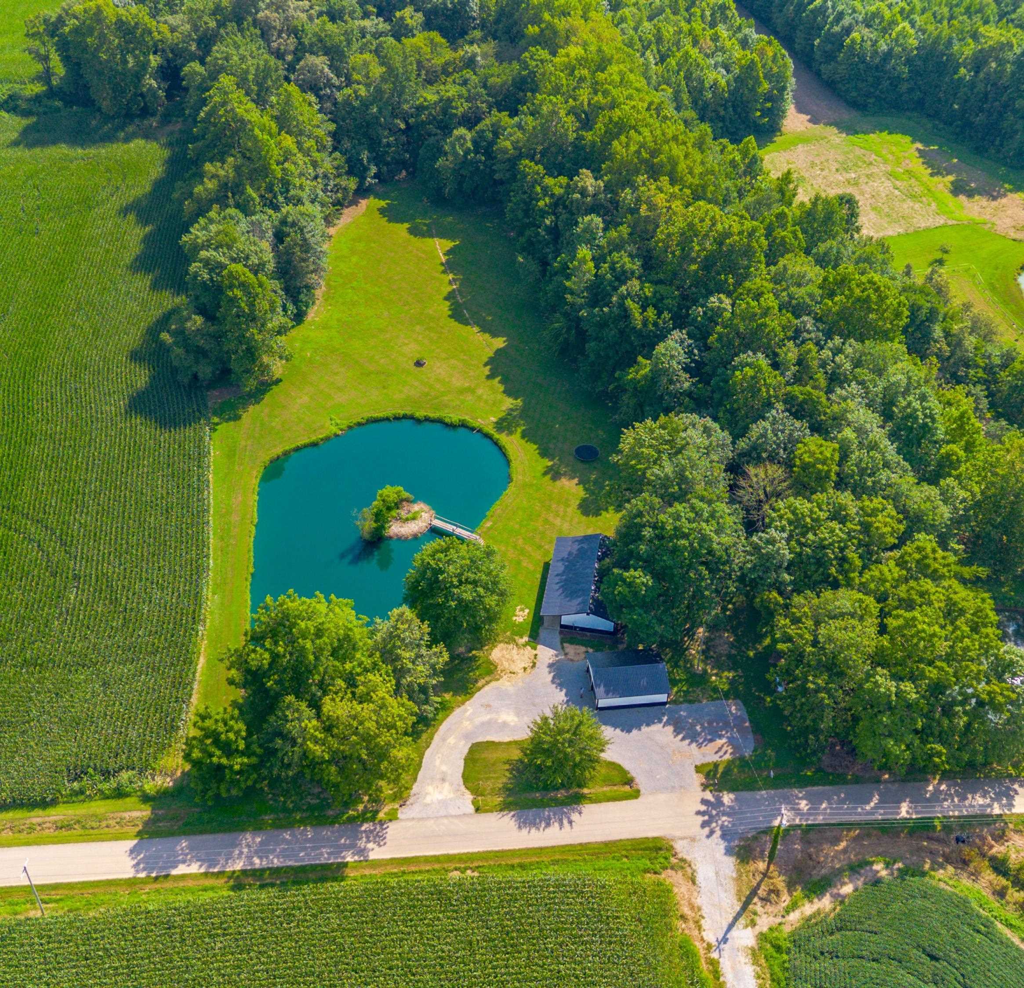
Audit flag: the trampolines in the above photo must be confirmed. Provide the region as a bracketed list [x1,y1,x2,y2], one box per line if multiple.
[573,444,601,463]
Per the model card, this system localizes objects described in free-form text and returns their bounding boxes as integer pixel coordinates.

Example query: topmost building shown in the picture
[539,531,625,636]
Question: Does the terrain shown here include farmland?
Yes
